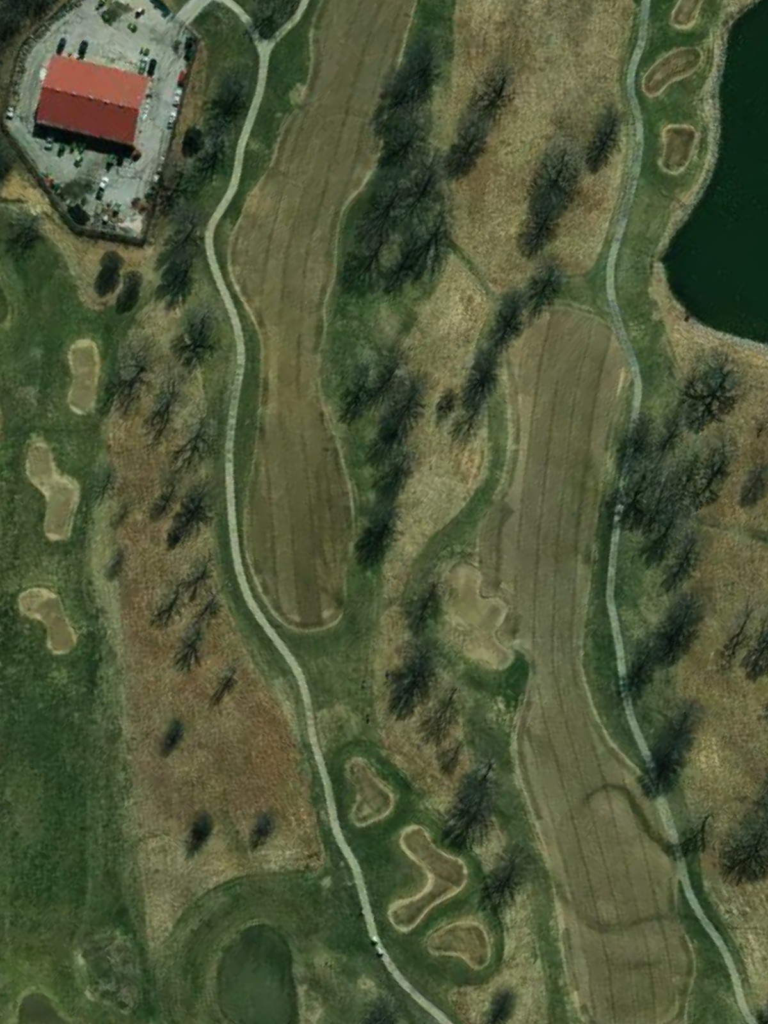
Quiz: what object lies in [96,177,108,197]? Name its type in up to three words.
vehicle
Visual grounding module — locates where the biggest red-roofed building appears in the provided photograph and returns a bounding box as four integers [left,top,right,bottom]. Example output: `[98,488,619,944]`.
[35,56,150,144]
